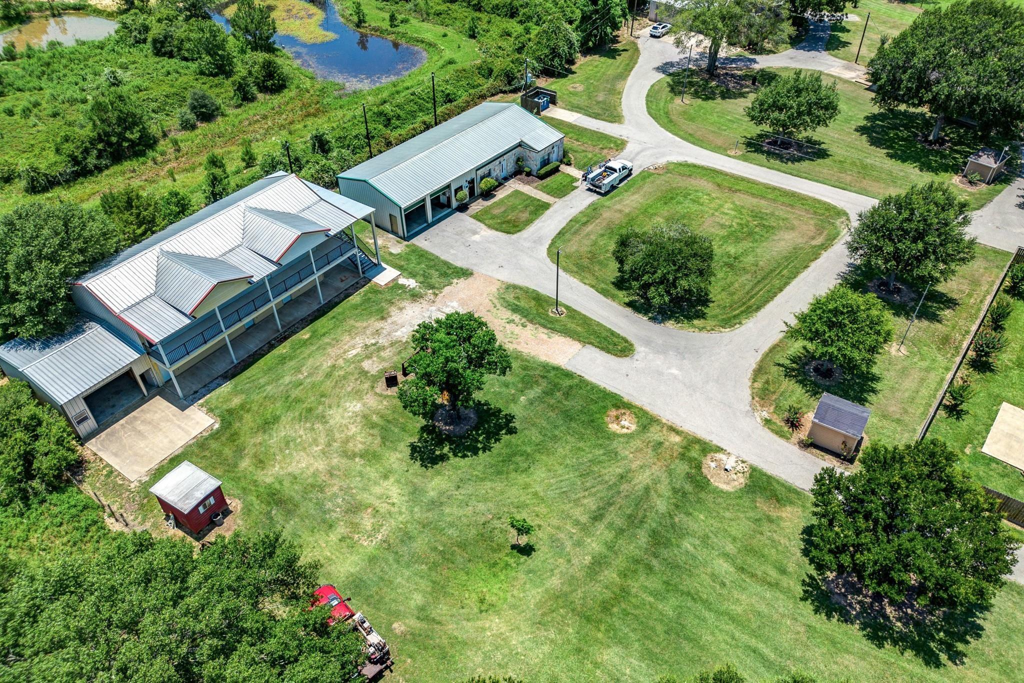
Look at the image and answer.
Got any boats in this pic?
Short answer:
No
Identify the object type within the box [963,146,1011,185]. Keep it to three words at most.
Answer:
shed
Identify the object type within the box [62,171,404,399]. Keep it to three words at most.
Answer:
house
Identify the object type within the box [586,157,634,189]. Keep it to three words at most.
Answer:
truck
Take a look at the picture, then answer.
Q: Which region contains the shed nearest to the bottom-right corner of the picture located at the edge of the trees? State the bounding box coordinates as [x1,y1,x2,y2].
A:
[809,394,874,453]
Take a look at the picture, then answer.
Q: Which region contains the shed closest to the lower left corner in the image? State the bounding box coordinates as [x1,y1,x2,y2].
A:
[151,462,229,534]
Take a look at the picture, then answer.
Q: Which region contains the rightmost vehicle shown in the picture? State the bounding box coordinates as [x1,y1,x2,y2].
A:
[652,23,672,37]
